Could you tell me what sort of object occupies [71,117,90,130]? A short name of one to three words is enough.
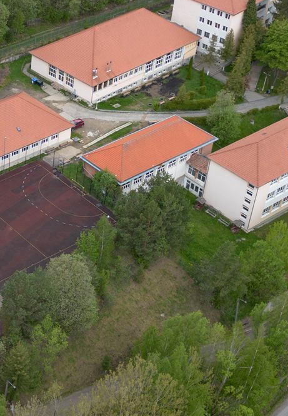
vehicle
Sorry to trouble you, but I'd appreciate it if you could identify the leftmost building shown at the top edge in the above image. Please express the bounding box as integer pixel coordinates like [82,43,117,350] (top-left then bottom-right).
[27,7,204,103]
